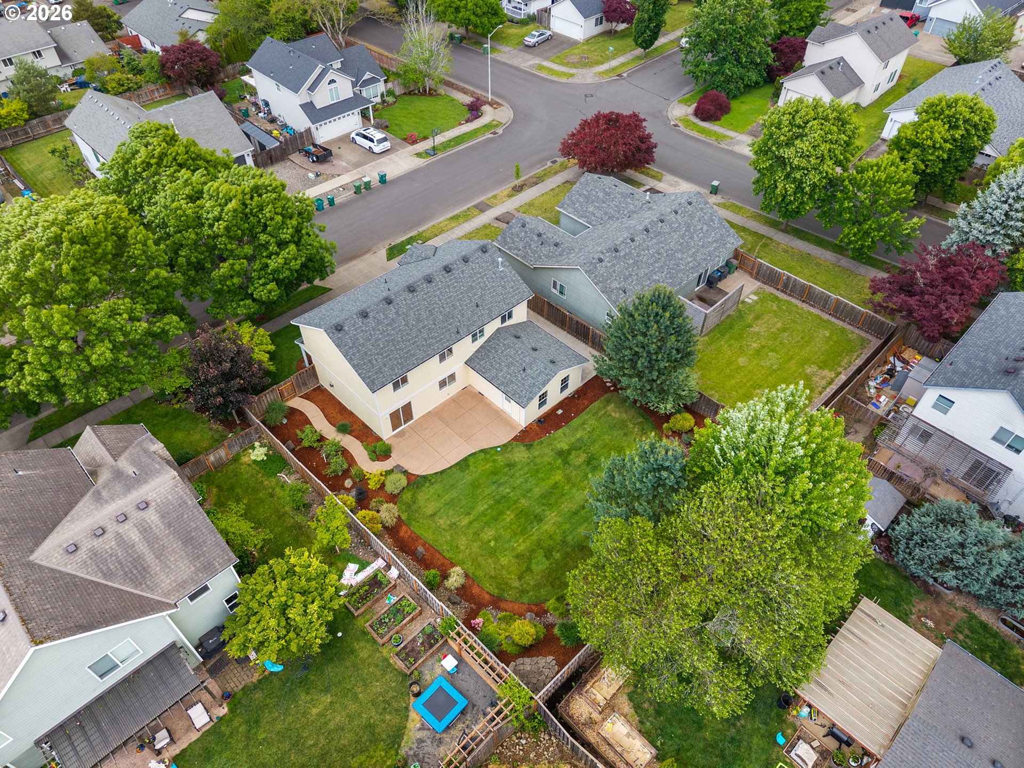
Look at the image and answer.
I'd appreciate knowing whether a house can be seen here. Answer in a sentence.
Yes, there's a house down there.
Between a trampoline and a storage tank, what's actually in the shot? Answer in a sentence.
There is a trampoline in the scene.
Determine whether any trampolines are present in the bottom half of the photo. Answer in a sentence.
Yes, you'll find a trampoline in the bottom half of the photo.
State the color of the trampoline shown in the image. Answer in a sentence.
The color of the trampoline is blue.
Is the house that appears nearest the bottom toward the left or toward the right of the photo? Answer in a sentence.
The house that appears nearest the bottom is on the right side of the image.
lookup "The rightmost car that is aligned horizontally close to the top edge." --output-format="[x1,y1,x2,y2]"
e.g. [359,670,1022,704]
[522,30,550,44]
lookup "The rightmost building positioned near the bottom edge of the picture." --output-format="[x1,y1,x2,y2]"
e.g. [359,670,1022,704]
[878,642,1024,768]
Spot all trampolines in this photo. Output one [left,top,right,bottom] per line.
[412,676,468,736]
